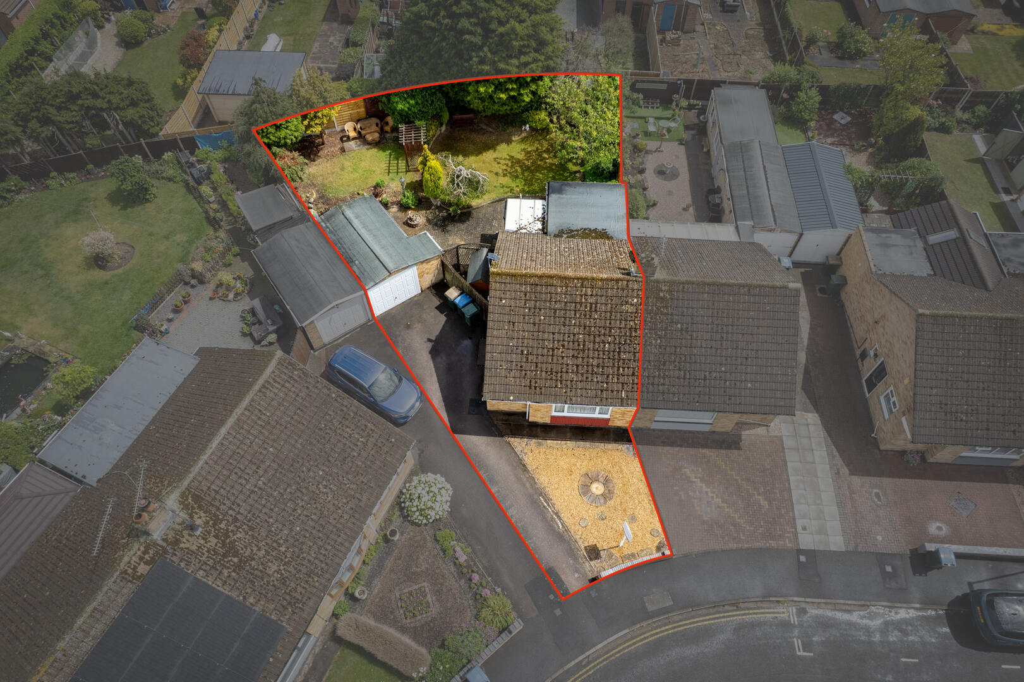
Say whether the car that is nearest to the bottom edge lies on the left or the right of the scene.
right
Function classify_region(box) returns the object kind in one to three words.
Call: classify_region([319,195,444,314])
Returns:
building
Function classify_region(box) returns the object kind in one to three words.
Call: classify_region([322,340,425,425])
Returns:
car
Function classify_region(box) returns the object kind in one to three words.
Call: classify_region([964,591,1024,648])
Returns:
car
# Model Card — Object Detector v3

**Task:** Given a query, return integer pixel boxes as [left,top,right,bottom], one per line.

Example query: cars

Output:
[964,591,1024,648]
[322,340,425,425]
